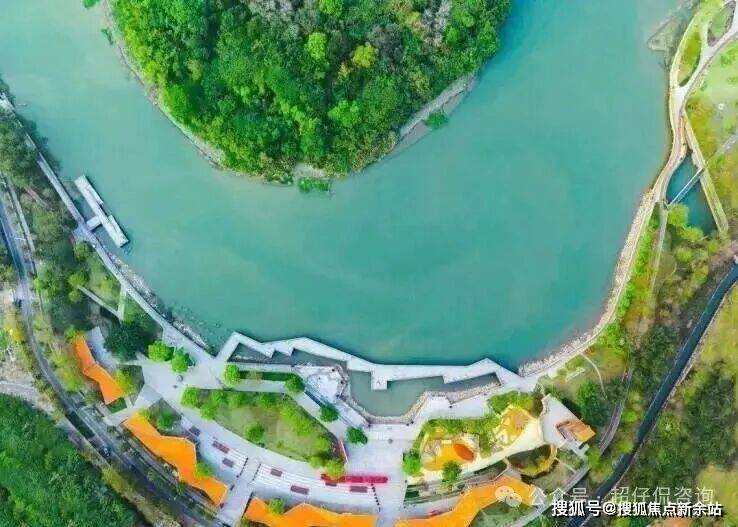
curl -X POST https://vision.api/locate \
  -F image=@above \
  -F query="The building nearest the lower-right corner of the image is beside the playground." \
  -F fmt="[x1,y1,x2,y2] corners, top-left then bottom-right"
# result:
[556,419,595,448]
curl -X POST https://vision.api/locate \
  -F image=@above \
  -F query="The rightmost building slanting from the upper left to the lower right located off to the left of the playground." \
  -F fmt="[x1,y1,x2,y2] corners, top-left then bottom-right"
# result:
[123,413,228,505]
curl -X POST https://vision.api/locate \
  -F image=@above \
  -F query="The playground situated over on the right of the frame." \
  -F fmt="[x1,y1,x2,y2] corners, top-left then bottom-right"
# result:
[416,404,544,479]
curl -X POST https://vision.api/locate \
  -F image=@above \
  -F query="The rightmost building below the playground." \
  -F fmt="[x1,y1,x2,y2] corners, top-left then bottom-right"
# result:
[393,476,535,527]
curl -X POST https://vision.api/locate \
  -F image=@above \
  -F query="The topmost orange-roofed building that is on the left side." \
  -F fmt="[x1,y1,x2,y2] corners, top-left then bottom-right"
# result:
[75,333,123,404]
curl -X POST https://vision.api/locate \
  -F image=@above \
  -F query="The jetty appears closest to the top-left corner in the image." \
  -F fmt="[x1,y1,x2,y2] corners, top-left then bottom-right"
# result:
[73,175,126,247]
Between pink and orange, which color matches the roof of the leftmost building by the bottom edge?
orange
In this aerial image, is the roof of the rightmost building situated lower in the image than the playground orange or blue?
orange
